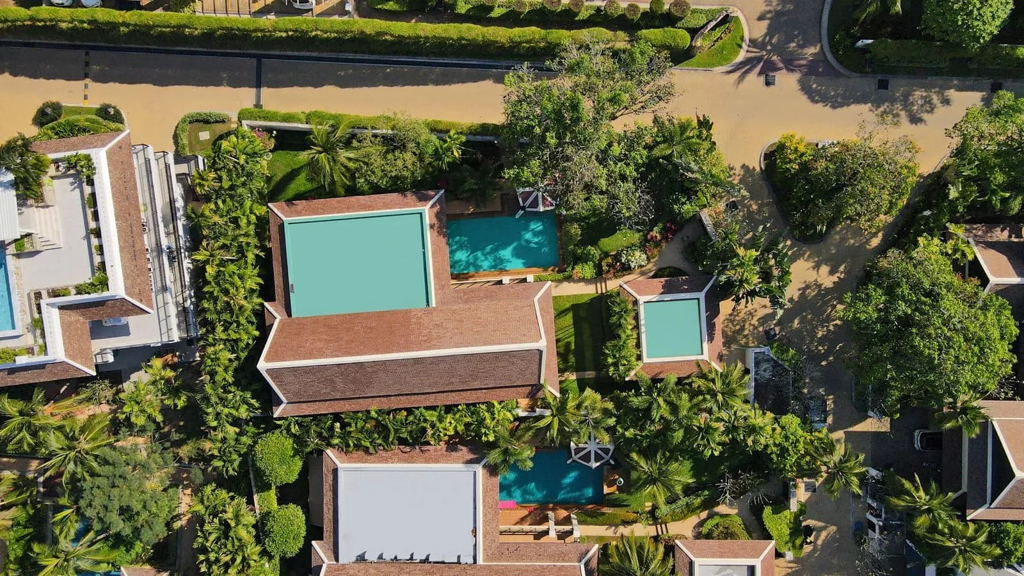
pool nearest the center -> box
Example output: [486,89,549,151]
[446,209,562,277]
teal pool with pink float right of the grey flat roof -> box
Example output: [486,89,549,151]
[497,445,605,505]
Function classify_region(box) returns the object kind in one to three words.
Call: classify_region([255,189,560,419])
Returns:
house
